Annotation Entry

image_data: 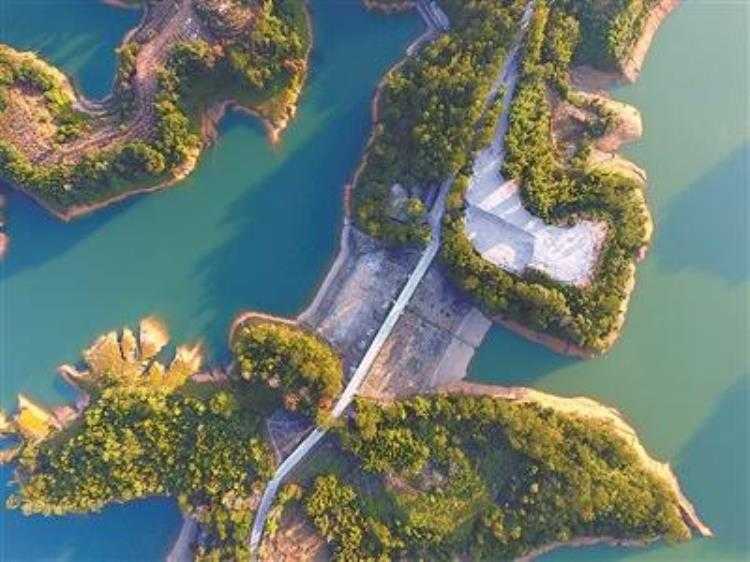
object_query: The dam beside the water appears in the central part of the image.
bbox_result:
[294,212,492,418]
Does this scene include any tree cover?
Yes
